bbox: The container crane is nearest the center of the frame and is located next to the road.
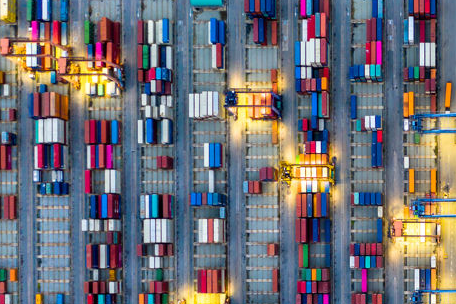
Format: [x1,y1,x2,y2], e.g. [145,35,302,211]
[223,88,282,125]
